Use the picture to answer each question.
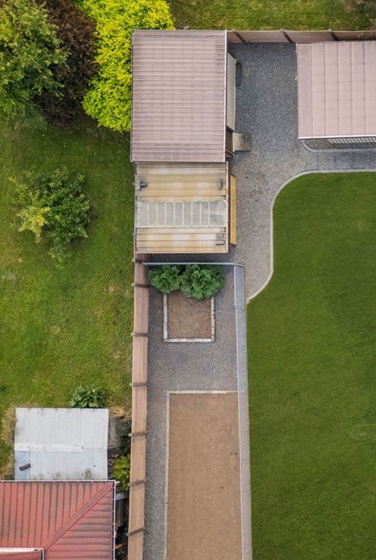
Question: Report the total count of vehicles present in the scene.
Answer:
0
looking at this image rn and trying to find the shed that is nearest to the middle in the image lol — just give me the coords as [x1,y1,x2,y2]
[134,161,236,254]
